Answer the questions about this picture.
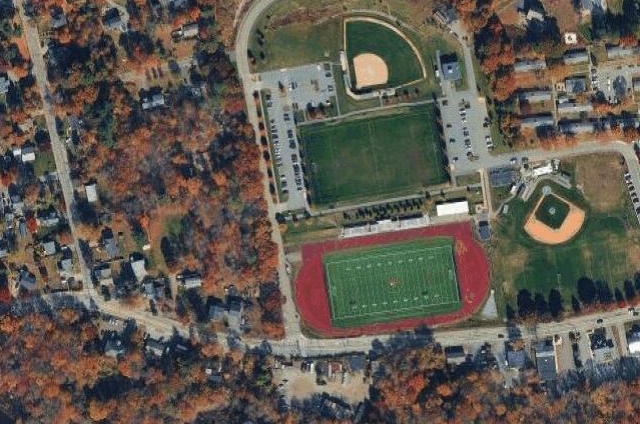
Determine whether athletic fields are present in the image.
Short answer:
Yes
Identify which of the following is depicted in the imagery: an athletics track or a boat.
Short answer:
athletics track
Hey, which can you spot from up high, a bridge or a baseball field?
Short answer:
baseball field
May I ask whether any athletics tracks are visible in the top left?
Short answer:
No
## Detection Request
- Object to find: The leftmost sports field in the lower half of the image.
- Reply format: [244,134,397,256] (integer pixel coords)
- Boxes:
[323,236,461,328]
